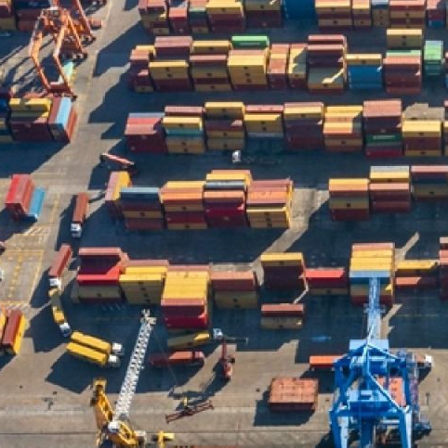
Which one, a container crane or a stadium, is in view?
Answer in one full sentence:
This aerial view contains a container crane.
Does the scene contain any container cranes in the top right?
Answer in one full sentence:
No, no container crane is visible in the top right.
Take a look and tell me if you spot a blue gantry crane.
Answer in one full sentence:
Yes, I can see a blue gantry crane in this picture.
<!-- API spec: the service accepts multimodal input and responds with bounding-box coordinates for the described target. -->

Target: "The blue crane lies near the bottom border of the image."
[332,272,436,448]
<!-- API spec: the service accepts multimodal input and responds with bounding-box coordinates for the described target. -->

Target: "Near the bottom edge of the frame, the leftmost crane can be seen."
[87,311,186,448]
